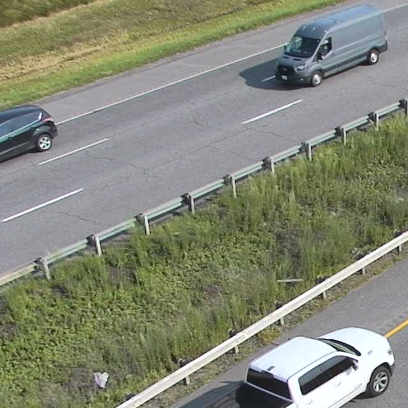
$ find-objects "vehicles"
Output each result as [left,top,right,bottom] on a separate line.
[270,2,389,86]
[201,328,397,408]
[0,103,56,160]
